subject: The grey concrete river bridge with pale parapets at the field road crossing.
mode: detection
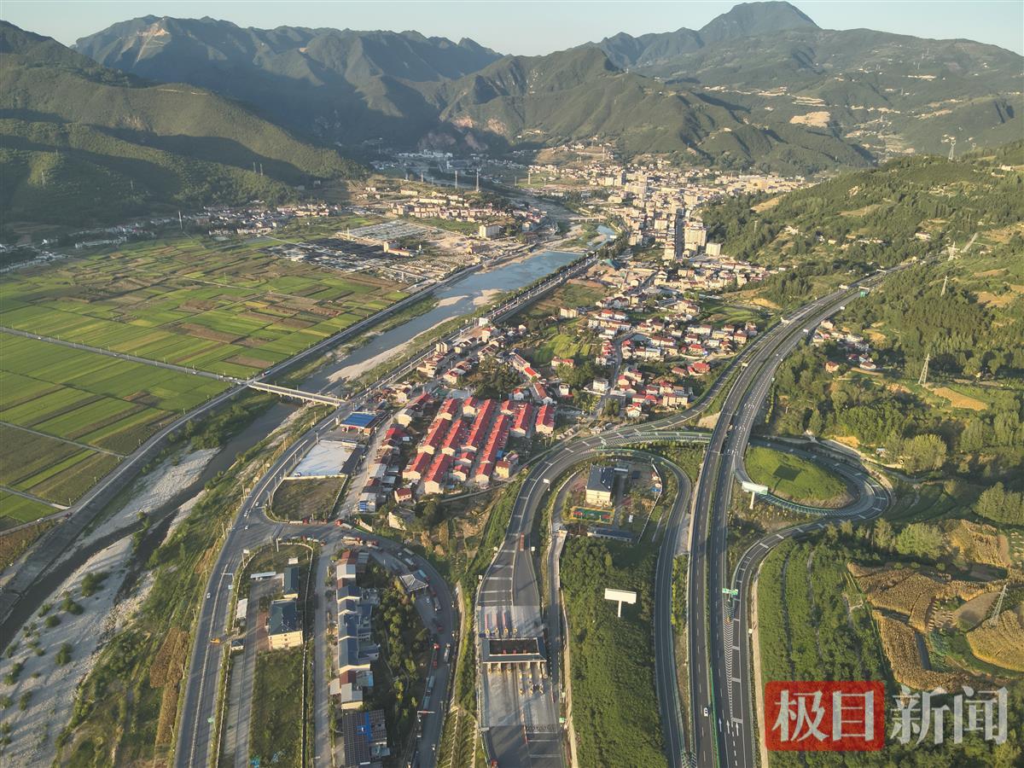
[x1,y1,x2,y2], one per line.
[239,381,348,406]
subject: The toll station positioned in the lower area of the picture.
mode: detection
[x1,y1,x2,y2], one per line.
[477,606,558,754]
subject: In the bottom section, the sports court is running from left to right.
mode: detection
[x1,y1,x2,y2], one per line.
[570,504,615,523]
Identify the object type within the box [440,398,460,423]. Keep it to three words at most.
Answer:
house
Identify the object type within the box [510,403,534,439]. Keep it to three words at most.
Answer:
house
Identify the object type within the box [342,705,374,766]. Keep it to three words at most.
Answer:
shed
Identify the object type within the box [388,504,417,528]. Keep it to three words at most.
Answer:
building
